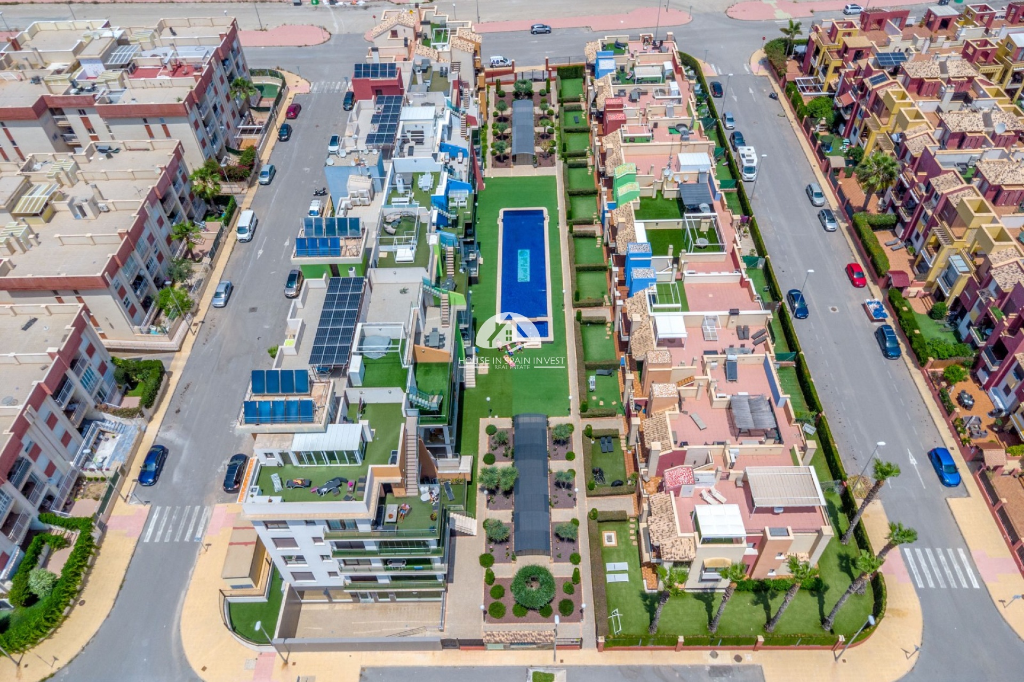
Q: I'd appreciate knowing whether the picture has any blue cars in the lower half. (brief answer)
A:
Yes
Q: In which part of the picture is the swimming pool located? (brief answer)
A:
center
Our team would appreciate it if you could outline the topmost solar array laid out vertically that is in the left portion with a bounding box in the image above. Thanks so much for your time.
[362,88,402,155]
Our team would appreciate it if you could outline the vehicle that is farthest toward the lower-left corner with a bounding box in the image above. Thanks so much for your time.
[136,443,167,484]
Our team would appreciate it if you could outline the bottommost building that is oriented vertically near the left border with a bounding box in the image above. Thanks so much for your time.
[0,304,121,591]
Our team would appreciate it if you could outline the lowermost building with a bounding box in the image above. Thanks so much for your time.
[443,626,580,649]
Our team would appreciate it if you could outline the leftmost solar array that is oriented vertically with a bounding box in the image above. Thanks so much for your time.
[309,276,365,367]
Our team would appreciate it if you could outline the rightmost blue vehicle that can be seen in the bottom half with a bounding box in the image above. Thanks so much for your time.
[928,446,961,486]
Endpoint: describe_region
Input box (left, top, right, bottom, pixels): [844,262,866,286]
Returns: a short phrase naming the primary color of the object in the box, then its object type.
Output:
red car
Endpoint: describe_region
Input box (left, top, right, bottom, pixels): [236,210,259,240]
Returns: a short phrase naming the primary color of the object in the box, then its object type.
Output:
white car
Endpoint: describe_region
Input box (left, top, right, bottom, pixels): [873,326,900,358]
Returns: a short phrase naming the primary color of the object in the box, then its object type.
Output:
blue car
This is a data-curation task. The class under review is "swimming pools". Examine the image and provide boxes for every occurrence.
[494,206,556,348]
